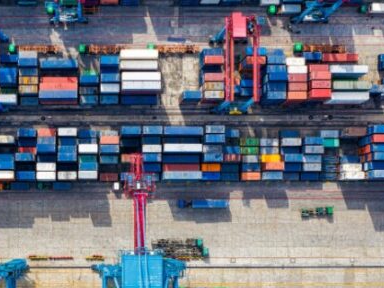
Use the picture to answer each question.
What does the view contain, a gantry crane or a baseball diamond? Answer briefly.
gantry crane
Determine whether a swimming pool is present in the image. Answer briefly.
No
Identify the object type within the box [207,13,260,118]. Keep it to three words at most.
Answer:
container crane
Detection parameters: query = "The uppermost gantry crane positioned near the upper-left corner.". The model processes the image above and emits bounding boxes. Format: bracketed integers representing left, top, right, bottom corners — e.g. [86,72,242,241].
[46,0,91,24]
